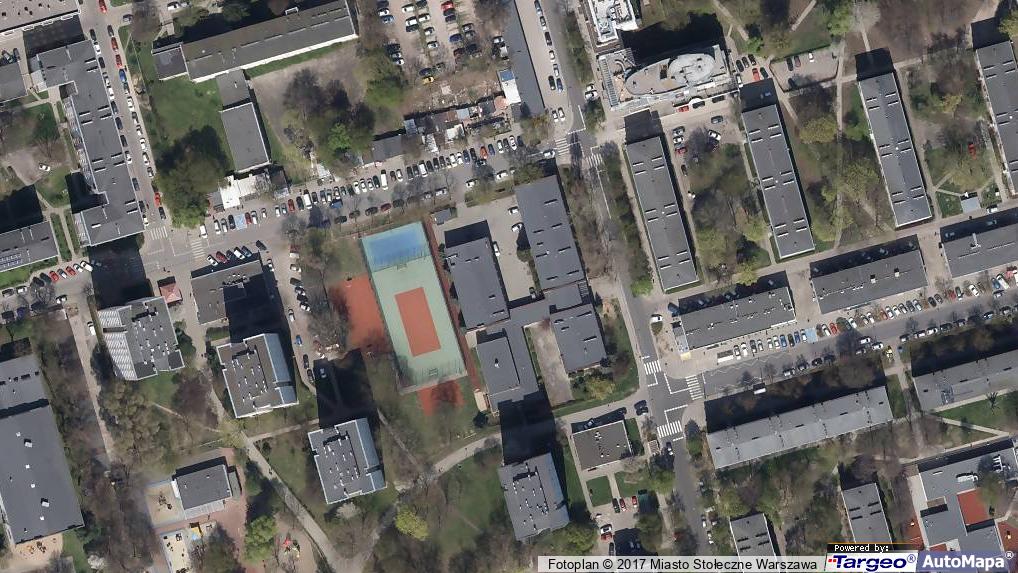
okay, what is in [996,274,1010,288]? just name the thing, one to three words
vehicle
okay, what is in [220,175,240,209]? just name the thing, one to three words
building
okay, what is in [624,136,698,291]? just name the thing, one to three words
building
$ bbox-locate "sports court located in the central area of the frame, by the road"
[361,220,469,396]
